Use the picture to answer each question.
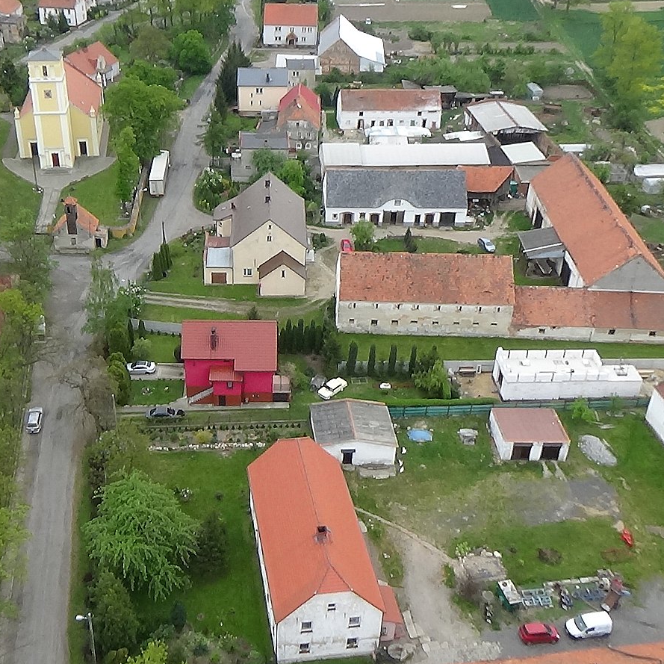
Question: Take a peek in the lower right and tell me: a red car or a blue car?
red car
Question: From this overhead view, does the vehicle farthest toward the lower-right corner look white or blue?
white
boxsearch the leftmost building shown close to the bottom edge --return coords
[246,435,390,664]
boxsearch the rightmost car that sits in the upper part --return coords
[478,237,496,253]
